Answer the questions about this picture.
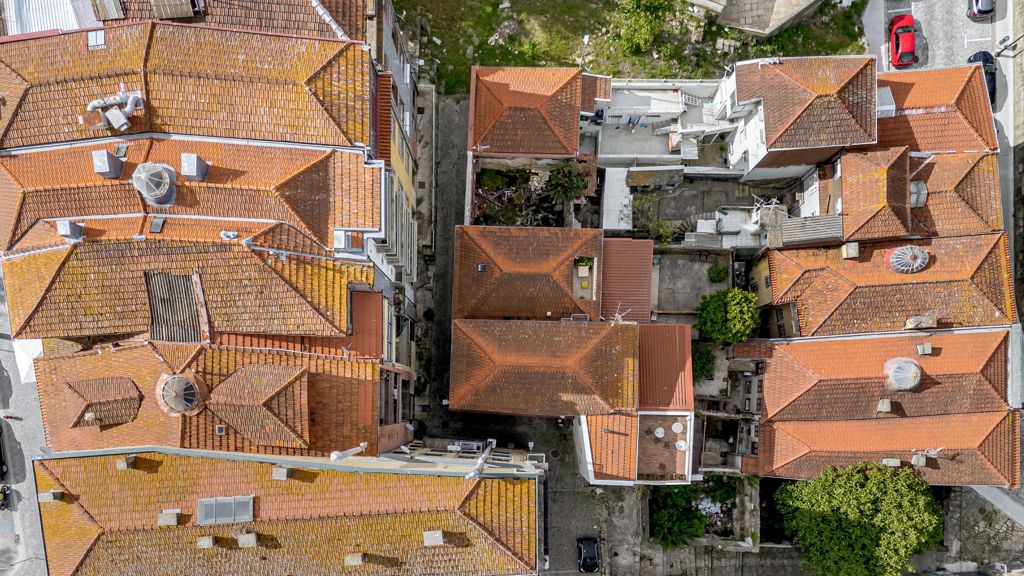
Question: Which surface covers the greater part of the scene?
buildings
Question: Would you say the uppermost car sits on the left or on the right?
right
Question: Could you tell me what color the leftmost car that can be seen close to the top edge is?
red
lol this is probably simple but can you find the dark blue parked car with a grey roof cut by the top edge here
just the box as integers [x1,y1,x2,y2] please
[965,0,996,25]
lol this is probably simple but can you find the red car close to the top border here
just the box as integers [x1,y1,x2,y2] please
[887,19,916,69]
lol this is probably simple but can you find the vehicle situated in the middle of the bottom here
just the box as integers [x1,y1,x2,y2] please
[576,537,601,573]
